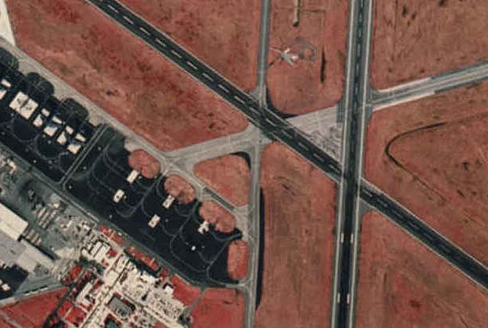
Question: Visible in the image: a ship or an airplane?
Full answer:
I can see an airplane in this picture.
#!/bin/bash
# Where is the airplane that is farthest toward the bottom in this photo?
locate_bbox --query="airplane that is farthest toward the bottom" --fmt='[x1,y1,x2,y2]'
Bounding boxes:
[62,125,85,152]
